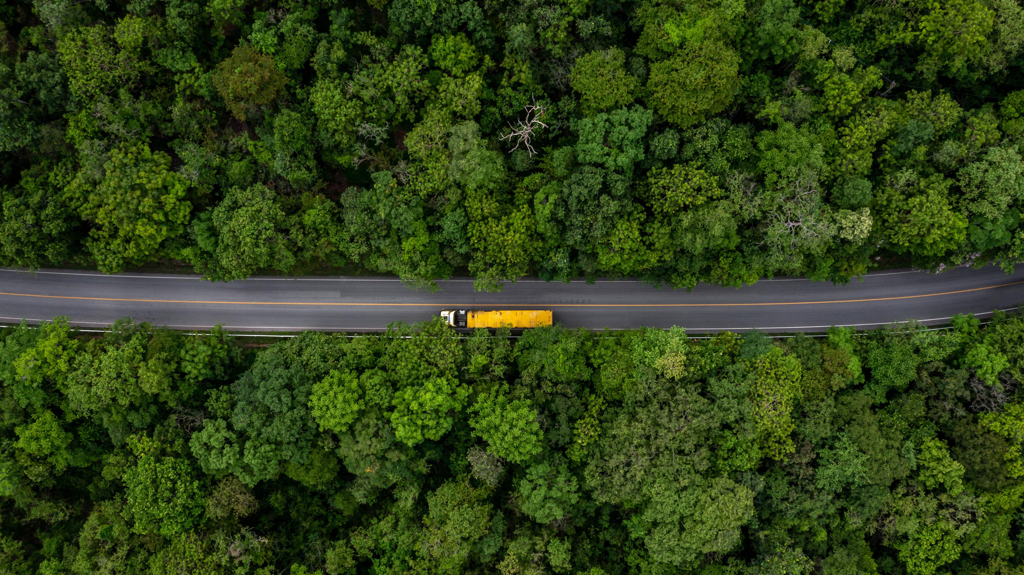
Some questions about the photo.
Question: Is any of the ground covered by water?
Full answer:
No, water can't be seen anywhere here.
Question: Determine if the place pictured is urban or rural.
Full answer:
The land in this view is best described as rural.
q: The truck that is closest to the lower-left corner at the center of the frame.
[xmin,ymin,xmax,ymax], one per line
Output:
[440,307,472,329]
